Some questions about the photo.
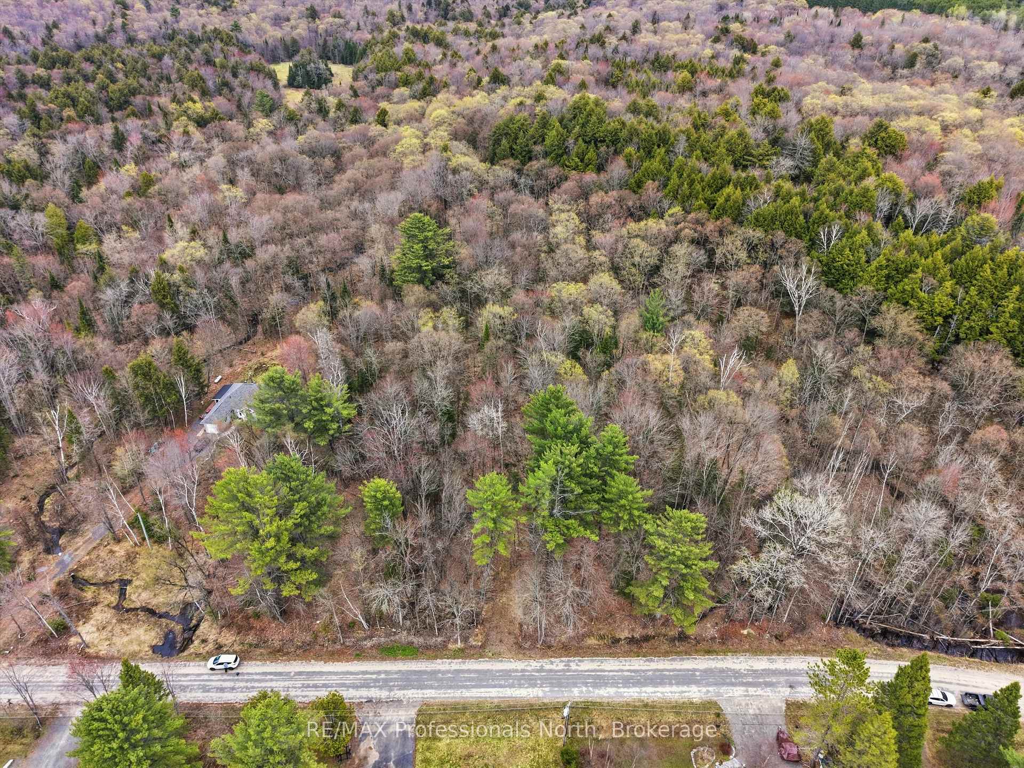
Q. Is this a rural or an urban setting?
rural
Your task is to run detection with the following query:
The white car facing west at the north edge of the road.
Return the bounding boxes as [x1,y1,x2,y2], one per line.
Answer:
[206,656,242,674]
